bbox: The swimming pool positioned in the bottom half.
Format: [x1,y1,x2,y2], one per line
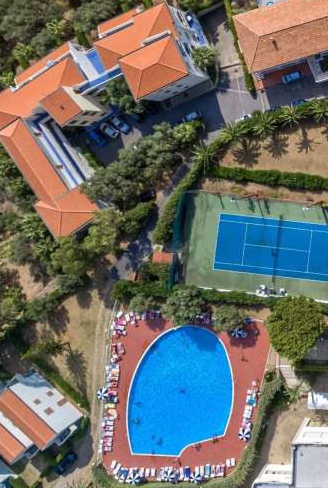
[103,310,268,482]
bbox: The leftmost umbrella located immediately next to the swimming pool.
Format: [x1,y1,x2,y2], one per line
[96,387,109,400]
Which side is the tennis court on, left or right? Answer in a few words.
right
